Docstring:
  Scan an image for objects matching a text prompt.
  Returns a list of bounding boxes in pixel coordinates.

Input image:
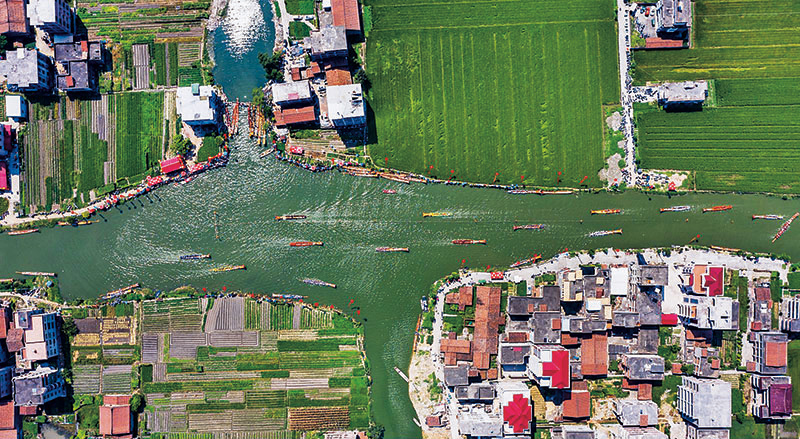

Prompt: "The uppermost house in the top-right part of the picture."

[652,0,691,33]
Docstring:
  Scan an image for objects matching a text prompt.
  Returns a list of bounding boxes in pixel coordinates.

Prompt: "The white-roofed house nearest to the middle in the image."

[327,84,367,128]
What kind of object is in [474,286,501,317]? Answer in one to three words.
building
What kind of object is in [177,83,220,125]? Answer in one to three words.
house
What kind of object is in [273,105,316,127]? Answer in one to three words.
house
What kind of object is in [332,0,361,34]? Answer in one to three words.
building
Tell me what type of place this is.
residential area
